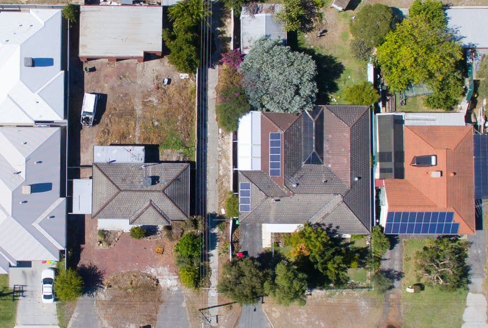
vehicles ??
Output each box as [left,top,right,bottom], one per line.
[81,91,98,125]
[40,268,55,302]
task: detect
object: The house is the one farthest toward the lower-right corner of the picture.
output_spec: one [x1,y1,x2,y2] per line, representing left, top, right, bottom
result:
[375,112,488,235]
